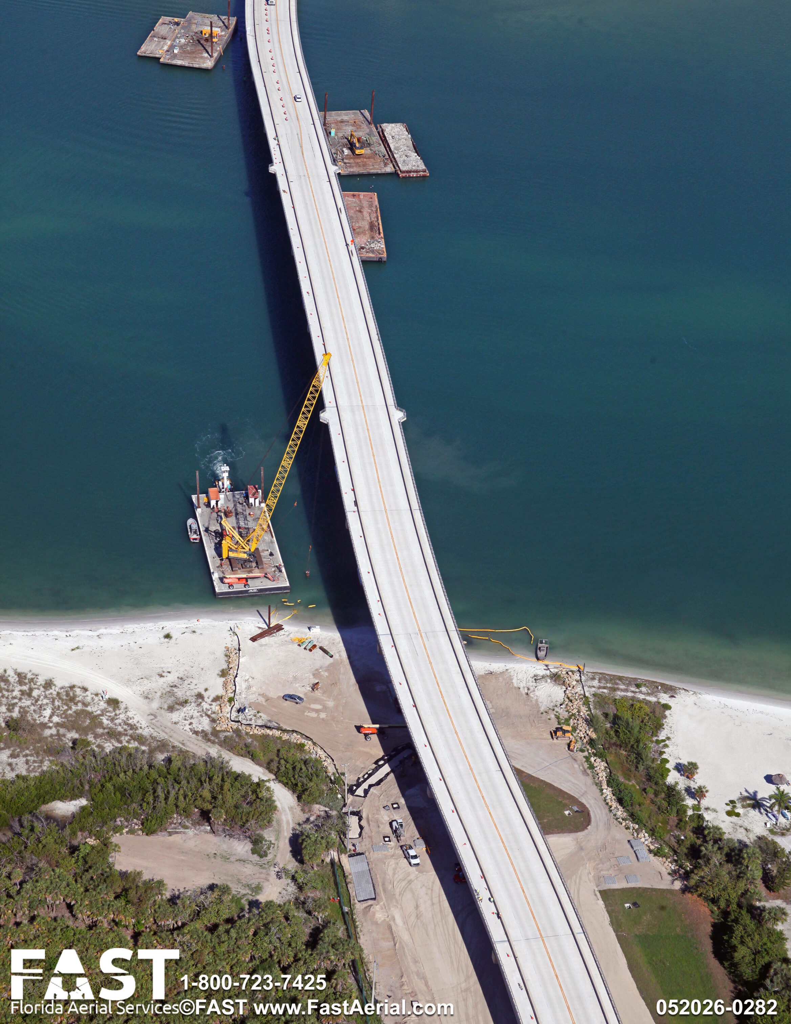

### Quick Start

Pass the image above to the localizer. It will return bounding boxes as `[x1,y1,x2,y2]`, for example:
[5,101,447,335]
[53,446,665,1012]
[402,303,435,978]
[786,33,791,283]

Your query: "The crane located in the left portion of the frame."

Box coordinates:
[213,353,336,575]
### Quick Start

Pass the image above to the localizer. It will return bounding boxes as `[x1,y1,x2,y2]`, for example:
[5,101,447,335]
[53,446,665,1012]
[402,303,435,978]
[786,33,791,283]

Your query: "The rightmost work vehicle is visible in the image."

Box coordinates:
[554,726,572,741]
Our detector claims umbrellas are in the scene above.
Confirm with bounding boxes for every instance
[773,772,790,785]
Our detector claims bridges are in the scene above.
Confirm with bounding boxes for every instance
[245,0,628,1024]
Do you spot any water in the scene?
Yes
